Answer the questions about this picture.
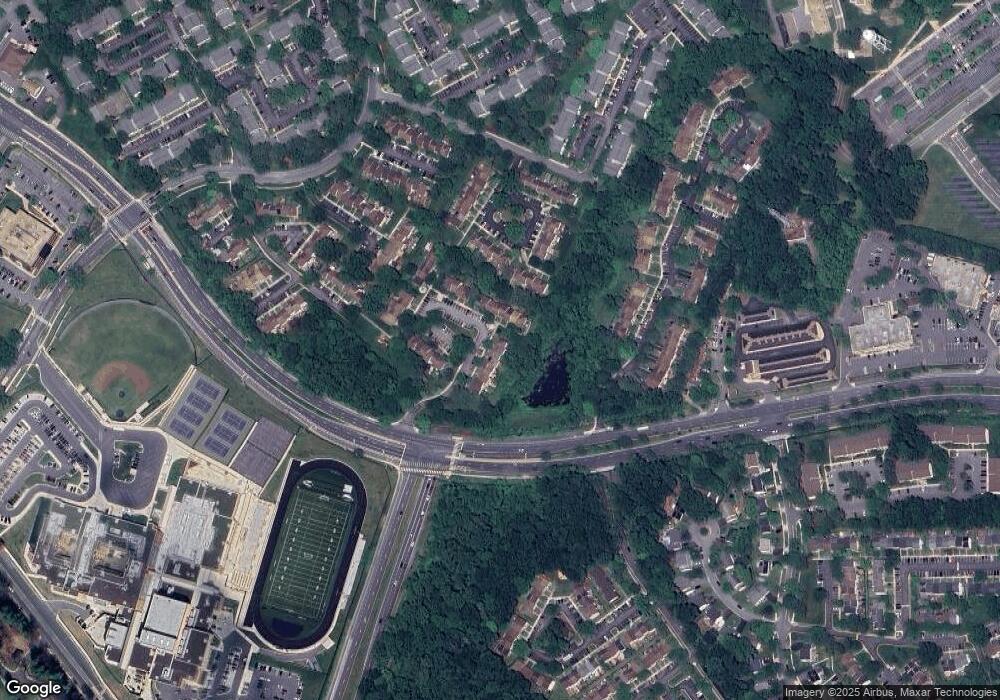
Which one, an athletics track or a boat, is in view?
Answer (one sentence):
It is an athletics track that can be seen here.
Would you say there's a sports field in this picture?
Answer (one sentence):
Yes, a sports field is visible in the scene.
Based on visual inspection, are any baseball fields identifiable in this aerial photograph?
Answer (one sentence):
Yes, looking at the shot, I can spot a baseball field.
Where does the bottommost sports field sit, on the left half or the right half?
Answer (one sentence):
The bottommost sports field appears in the left half of the scene.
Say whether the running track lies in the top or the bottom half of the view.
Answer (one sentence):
The running track sits in the bottom half of the picture.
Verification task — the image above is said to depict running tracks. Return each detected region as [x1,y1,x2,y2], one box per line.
[245,459,365,649]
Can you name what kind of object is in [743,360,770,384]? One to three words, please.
building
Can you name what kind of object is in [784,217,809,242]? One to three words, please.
house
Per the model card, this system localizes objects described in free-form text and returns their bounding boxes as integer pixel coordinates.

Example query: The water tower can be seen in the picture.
[864,27,896,57]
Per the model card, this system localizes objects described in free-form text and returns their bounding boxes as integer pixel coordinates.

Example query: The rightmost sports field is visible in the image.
[263,471,354,638]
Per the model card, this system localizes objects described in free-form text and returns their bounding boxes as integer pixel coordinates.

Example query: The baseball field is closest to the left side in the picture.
[56,299,195,421]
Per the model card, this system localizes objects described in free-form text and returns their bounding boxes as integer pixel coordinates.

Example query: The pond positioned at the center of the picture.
[519,350,569,406]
